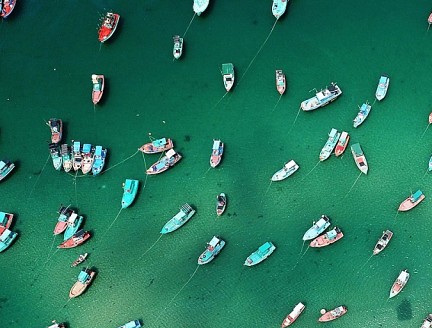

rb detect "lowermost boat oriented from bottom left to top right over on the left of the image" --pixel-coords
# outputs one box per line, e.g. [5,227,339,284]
[69,266,100,298]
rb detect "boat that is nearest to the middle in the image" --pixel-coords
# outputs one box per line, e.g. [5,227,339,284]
[210,135,226,168]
